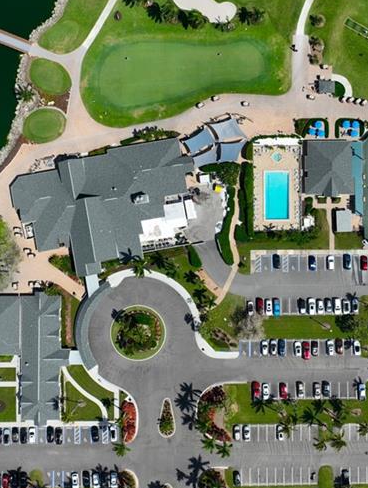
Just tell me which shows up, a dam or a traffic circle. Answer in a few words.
traffic circle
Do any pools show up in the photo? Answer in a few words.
Yes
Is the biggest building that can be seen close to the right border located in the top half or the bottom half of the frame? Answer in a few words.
top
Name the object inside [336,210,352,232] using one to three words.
shed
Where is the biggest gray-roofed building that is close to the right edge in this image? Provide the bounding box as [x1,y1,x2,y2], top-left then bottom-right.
[305,141,354,196]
